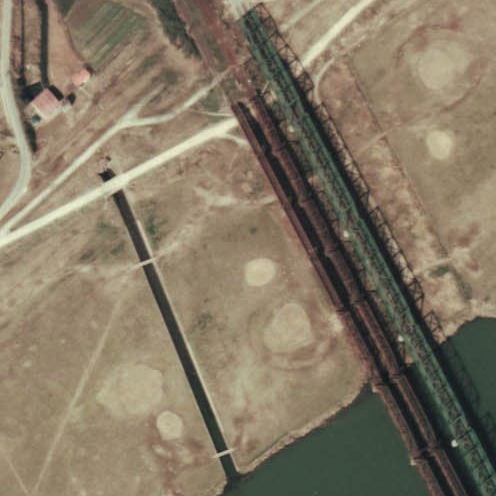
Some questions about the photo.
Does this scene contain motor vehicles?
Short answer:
No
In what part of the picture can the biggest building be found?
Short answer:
top left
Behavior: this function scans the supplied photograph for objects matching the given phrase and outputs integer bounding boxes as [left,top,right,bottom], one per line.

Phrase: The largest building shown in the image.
[32,89,62,122]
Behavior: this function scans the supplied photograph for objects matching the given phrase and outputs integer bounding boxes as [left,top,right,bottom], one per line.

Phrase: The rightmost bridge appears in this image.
[239,15,496,496]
